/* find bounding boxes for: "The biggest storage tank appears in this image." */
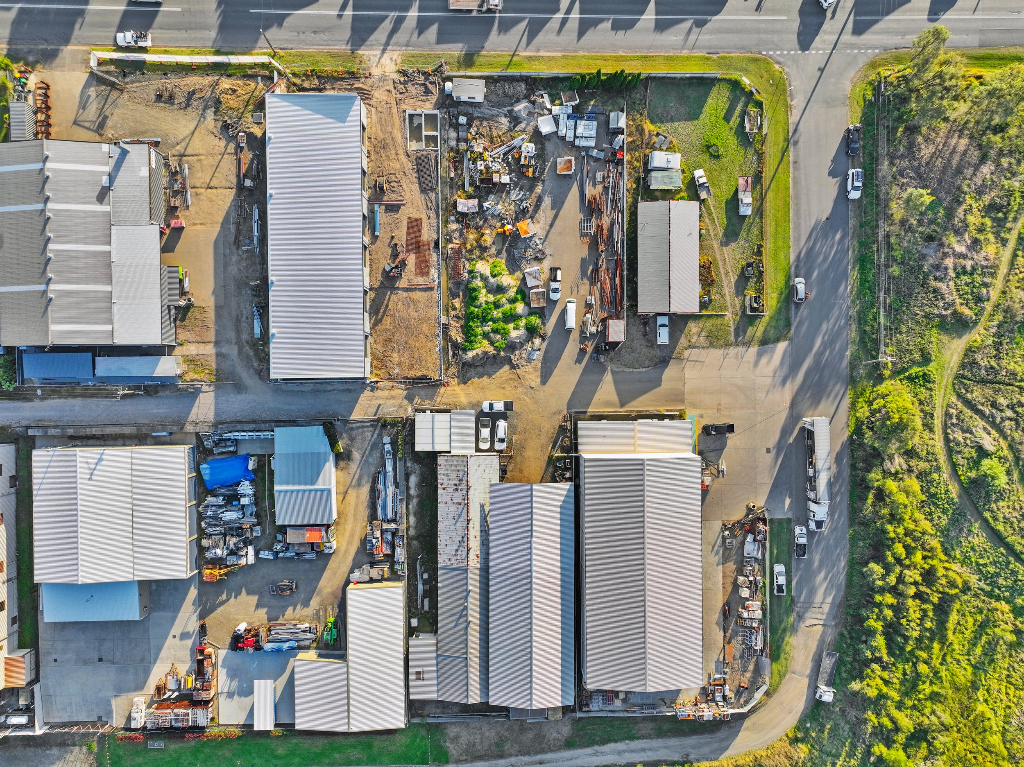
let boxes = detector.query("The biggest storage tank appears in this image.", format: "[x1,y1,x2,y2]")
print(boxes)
[406,109,440,150]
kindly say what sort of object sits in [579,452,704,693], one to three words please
shed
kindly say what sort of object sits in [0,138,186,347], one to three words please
warehouse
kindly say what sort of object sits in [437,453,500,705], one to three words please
shed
